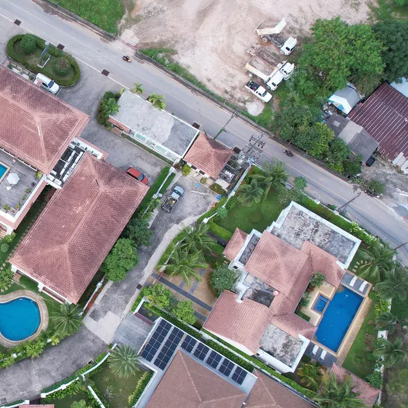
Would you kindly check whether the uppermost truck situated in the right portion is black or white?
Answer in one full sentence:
The uppermost truck situated in the right portion is white.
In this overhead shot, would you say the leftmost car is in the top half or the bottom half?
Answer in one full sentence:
Seen from above, the leftmost car lies in the top half of the view.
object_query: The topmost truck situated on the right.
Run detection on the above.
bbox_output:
[256,22,300,58]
